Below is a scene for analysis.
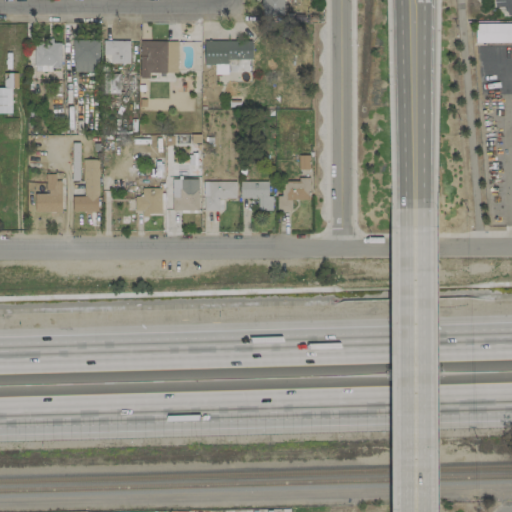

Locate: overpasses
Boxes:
[388,0,442,512]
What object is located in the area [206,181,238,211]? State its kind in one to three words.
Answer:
house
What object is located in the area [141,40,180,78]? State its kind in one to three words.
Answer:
house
